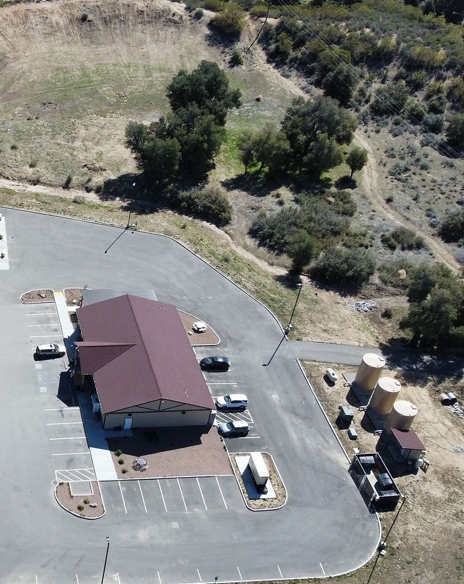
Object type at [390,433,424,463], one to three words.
shed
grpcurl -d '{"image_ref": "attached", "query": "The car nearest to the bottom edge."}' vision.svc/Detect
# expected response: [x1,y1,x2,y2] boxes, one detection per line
[219,418,253,434]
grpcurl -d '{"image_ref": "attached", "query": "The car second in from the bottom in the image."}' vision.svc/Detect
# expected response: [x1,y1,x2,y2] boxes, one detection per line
[214,391,249,407]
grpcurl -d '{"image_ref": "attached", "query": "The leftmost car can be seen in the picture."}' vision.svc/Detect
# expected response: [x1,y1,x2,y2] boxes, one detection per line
[36,341,67,355]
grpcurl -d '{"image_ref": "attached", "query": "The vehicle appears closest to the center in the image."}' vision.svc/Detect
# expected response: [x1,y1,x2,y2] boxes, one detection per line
[198,353,231,368]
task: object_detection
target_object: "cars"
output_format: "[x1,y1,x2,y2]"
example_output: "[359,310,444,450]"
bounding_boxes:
[214,391,249,407]
[219,418,253,434]
[36,341,67,355]
[198,353,231,368]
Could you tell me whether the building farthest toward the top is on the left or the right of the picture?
left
